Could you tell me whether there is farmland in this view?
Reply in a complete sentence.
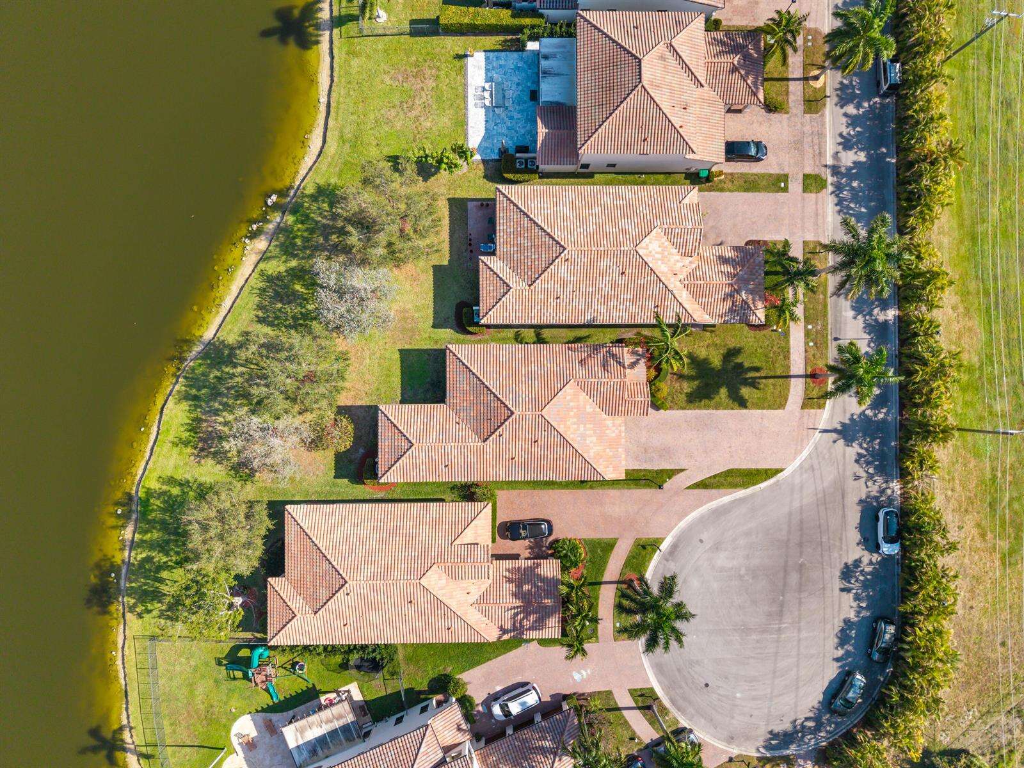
No, no farmland is visible.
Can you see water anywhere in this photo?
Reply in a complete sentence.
Yes, there is water in the image.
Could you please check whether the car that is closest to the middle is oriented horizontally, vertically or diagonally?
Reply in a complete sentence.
In this picture, the car that is closest to the middle lies horizontally.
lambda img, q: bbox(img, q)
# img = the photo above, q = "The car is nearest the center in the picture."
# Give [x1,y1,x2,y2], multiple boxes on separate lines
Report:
[506,520,554,545]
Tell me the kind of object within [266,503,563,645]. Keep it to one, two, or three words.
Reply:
house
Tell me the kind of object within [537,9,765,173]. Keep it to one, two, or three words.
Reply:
house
